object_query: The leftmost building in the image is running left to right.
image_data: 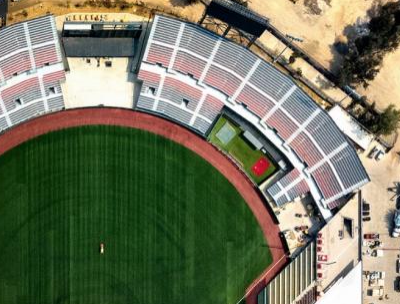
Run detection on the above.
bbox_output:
[61,22,143,62]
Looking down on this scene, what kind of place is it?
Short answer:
sports ground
